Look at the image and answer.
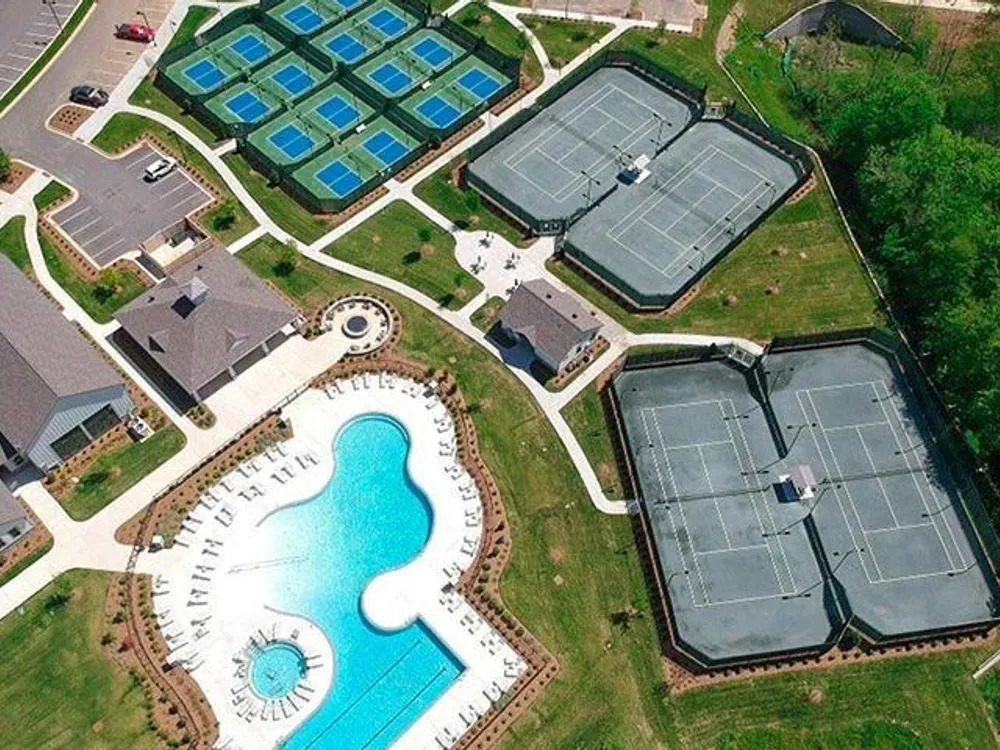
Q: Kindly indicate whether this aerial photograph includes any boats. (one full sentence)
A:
No, this view has no boat in it.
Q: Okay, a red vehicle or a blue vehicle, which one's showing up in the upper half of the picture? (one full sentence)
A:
Visible in the upper half of the picture is a red vehicle.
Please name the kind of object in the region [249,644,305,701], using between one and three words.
swimming pool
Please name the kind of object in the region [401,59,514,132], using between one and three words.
sports court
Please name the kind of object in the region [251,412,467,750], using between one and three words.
swimming pool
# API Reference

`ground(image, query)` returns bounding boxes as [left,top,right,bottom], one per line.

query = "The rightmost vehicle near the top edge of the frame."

[116,23,153,41]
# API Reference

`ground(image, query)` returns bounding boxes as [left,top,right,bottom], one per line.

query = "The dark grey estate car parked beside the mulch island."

[70,87,105,105]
